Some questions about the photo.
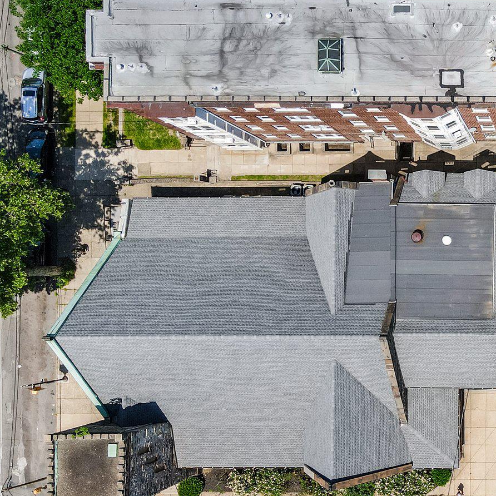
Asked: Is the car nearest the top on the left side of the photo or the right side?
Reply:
left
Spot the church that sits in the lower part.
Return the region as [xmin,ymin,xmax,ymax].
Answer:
[40,171,496,496]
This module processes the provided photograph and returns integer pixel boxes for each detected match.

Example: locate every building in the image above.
[40,171,496,496]
[87,0,496,153]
